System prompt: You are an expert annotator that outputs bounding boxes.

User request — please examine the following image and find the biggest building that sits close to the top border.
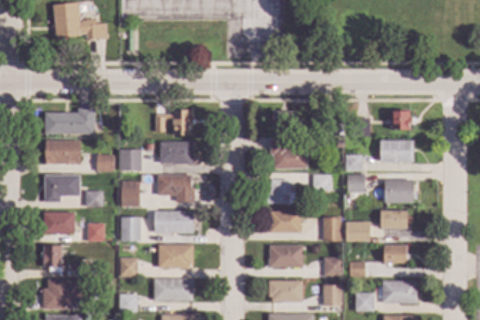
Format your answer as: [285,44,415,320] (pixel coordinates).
[50,2,108,40]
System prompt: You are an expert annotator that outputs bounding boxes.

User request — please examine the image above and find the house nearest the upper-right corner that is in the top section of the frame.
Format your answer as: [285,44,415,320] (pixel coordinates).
[392,109,417,130]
